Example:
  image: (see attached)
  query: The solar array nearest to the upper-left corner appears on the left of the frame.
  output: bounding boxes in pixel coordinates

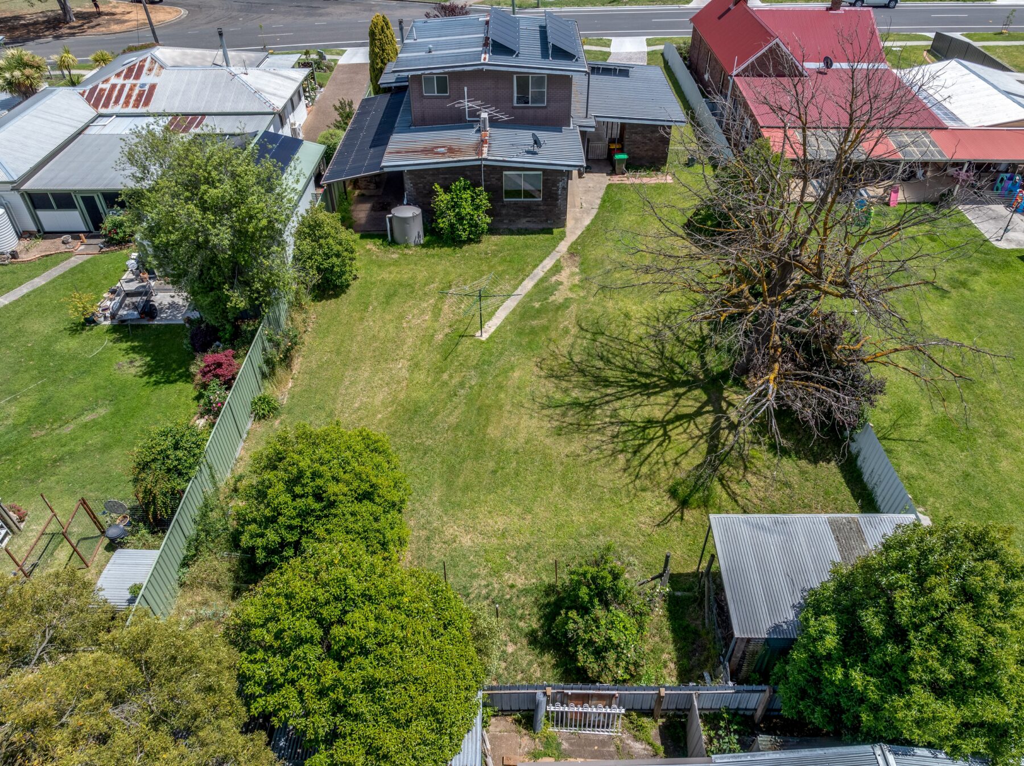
[229,131,308,202]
